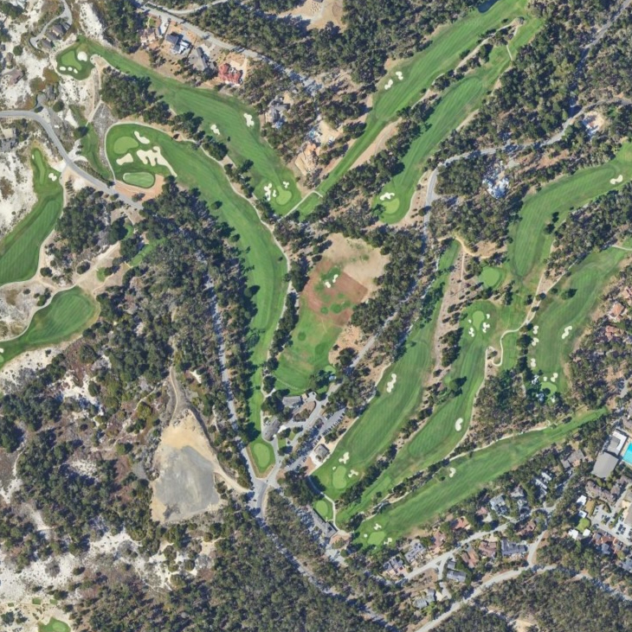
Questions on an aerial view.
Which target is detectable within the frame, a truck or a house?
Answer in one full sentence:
The image shows a house.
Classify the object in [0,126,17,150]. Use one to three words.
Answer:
house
